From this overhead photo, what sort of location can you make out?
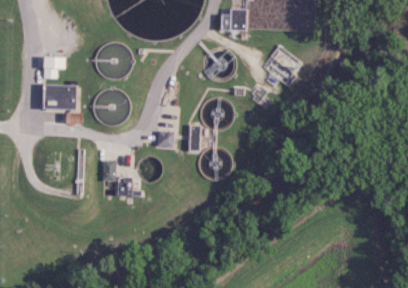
industrial area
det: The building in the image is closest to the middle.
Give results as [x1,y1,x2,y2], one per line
[188,126,202,154]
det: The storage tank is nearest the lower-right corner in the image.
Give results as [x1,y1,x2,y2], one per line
[198,147,236,182]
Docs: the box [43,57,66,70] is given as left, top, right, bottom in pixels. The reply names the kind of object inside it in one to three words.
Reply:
building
